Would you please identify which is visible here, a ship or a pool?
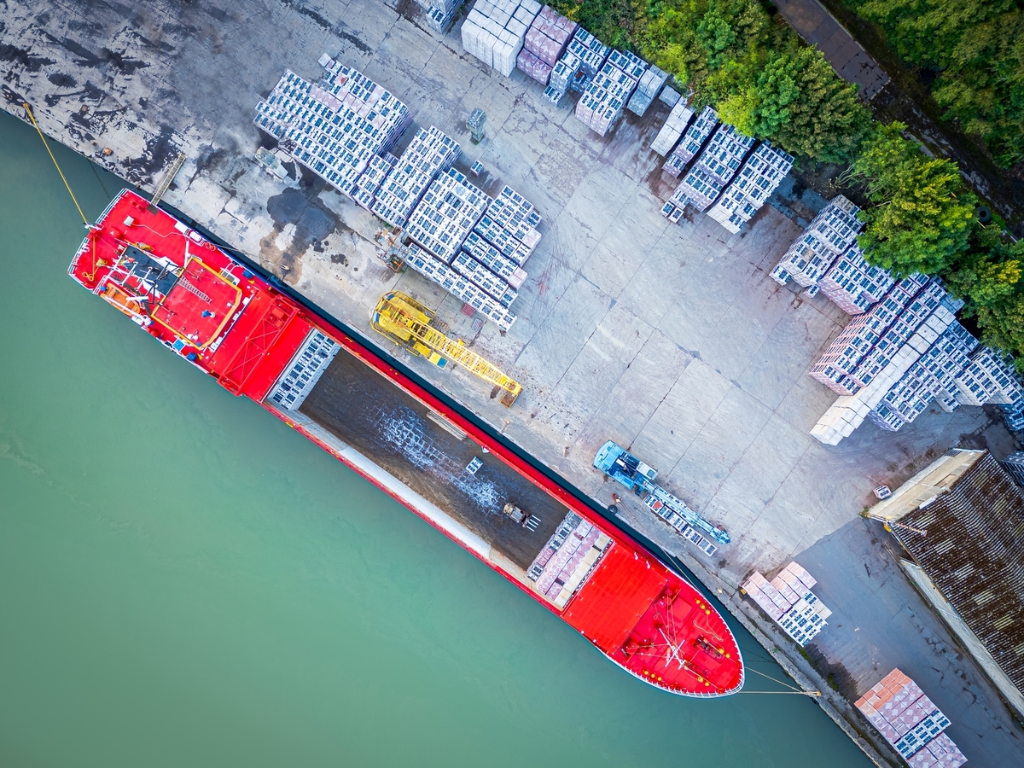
ship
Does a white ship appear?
No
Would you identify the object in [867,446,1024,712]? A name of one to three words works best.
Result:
shed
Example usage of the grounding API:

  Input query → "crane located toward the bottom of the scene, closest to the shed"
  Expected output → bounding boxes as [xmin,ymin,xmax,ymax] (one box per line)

[592,439,731,544]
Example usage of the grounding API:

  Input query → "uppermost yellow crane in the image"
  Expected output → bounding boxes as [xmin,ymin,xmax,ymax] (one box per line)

[370,291,524,408]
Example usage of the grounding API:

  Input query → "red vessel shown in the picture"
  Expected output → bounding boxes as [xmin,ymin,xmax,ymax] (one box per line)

[65,189,747,701]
